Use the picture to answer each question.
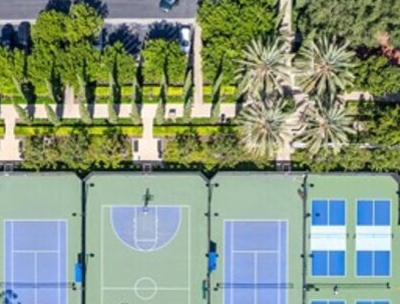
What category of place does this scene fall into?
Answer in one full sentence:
This image shows a sports ground.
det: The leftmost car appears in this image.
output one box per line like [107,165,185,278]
[0,24,13,51]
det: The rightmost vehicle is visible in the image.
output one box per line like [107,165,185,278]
[179,23,191,52]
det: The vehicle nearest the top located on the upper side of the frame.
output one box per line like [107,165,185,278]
[158,0,173,15]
